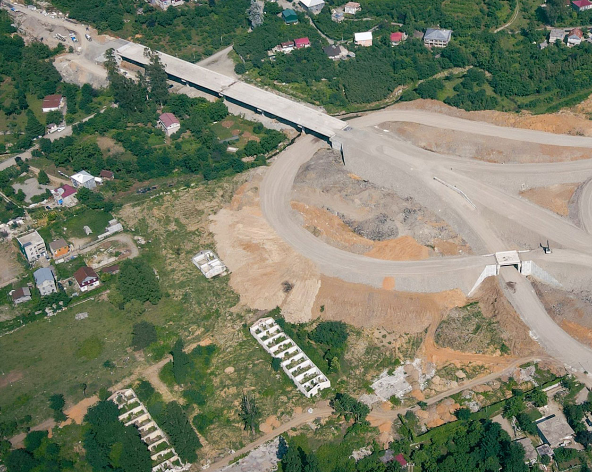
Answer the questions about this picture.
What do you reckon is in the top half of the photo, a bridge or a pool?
bridge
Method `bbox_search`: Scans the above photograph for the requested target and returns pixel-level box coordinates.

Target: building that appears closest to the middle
[195,254,226,283]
